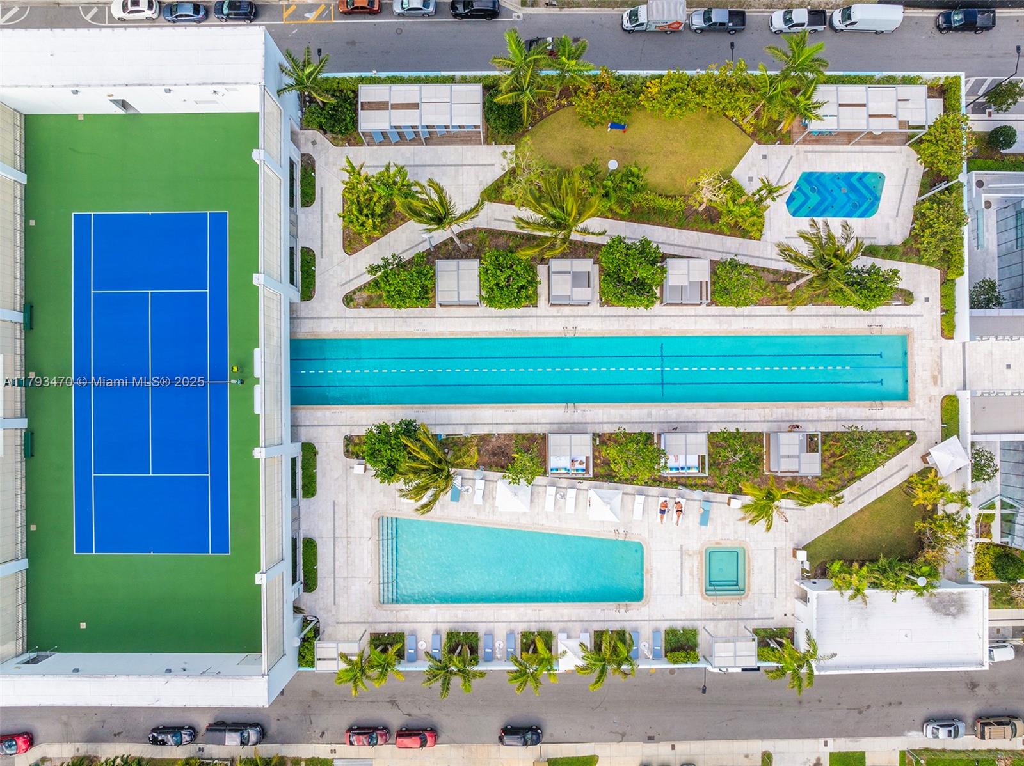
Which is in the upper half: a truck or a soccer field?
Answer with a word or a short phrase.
truck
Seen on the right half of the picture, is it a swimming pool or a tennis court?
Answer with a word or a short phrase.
swimming pool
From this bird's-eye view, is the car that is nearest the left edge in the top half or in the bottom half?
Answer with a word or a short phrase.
bottom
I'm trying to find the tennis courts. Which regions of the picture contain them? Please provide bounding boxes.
[25,113,276,653]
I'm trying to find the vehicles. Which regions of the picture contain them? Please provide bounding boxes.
[395,729,438,754]
[163,0,208,23]
[622,0,692,32]
[451,0,500,20]
[921,720,965,745]
[990,642,1017,663]
[934,5,998,33]
[688,5,747,33]
[499,727,542,752]
[204,723,265,750]
[973,718,1024,744]
[392,0,437,17]
[830,0,909,32]
[148,727,198,751]
[0,731,34,756]
[768,5,829,33]
[338,0,382,15]
[111,0,161,19]
[345,728,391,752]
[213,0,258,21]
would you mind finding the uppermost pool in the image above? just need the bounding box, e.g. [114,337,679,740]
[785,170,887,219]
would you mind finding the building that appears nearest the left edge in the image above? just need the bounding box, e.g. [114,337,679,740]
[0,25,300,707]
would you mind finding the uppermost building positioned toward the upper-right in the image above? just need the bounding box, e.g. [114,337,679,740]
[793,85,927,145]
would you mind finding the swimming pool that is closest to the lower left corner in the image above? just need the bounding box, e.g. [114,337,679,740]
[370,508,652,612]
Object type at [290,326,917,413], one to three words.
swimming pool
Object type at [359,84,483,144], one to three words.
building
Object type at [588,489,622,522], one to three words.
umbrella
